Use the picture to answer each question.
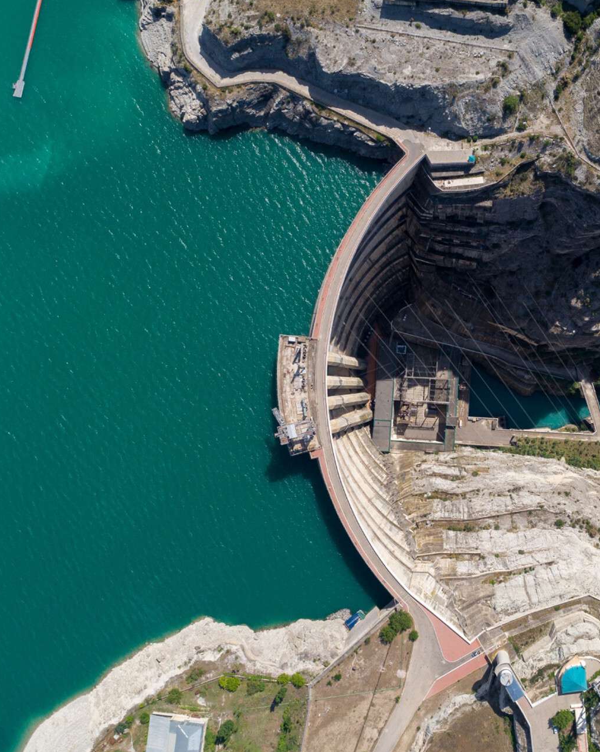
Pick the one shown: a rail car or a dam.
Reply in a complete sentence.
I can see a dam in this picture.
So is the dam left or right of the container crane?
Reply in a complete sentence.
The container crane has the dam on its right side.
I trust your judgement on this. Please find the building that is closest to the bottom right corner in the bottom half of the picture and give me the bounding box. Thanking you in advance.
[570,704,586,735]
